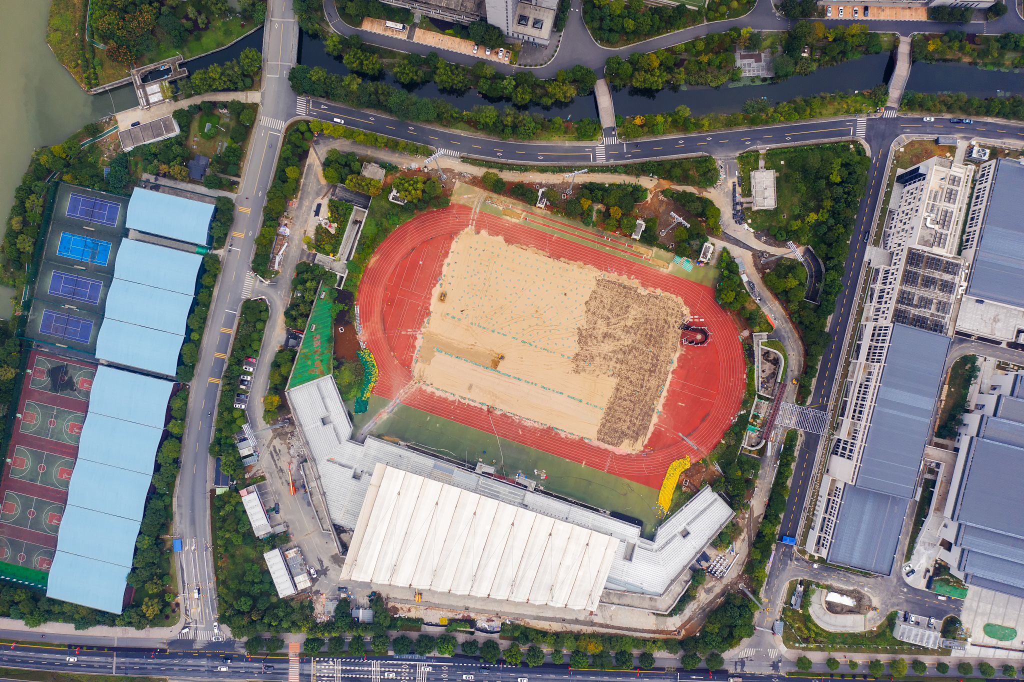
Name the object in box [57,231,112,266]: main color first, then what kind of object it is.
blue tennis court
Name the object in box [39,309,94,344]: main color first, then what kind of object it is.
blue tennis court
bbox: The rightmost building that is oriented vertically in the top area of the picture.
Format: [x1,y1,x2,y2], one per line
[959,157,1024,309]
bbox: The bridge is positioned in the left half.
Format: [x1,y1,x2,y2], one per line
[258,0,302,66]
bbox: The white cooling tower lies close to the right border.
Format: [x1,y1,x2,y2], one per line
[972,148,990,161]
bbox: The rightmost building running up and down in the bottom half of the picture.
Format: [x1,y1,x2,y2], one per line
[931,373,1024,600]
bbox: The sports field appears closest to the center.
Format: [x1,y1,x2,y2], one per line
[411,229,689,453]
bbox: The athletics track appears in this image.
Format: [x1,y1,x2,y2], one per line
[356,201,746,490]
